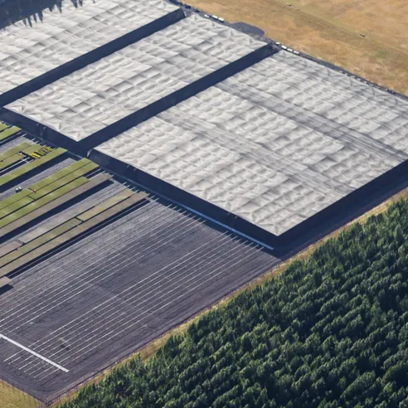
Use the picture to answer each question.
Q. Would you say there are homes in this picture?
Yes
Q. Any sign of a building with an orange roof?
No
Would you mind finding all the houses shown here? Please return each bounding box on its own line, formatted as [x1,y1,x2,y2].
[2,14,268,150]
[0,0,183,105]
[91,50,408,246]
